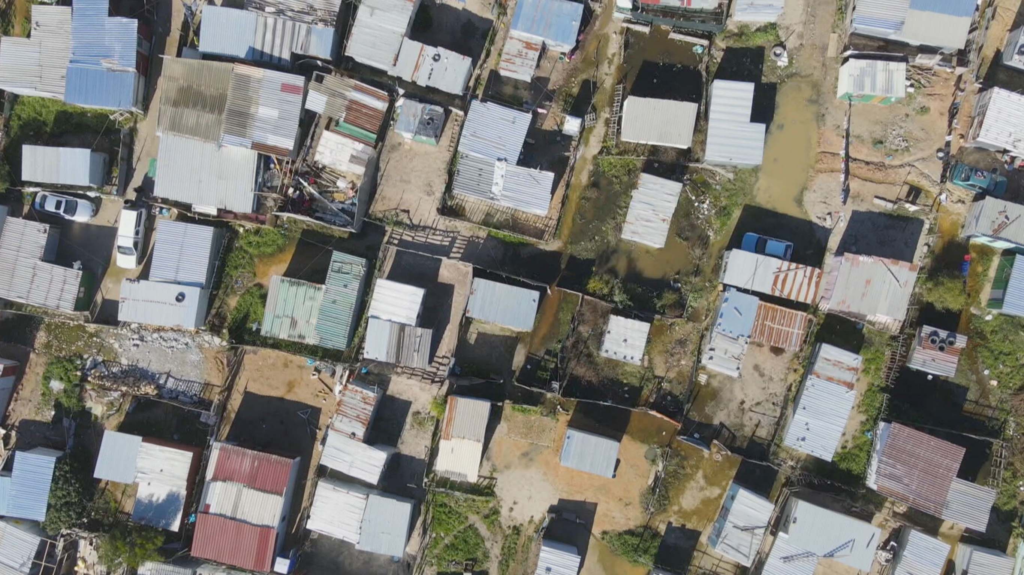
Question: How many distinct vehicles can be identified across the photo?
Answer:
four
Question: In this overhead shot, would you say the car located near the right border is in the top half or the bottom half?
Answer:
top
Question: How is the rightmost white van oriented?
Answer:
from top to bottom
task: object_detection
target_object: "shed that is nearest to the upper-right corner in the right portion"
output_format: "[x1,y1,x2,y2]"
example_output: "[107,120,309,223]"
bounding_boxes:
[986,19,1024,86]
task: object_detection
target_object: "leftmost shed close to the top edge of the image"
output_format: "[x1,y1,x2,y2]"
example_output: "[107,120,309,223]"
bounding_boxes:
[0,5,72,101]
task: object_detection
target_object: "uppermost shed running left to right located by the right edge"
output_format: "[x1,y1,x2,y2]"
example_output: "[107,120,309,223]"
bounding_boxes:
[840,0,977,57]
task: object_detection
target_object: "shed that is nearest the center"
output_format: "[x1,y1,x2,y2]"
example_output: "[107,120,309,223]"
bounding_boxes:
[466,278,540,331]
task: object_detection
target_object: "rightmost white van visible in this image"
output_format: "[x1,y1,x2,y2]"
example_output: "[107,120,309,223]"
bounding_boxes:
[115,207,150,271]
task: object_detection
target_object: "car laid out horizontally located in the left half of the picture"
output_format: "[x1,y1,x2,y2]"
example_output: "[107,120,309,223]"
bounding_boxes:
[35,191,102,224]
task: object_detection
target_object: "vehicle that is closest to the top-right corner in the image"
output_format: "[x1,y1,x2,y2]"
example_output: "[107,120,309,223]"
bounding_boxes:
[943,161,1008,197]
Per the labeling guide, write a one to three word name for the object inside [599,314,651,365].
shed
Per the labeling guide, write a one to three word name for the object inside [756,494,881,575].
shed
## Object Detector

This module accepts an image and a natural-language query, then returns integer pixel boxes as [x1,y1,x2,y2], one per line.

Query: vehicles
[736,234,794,262]
[943,161,1008,197]
[35,191,102,224]
[115,207,150,271]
